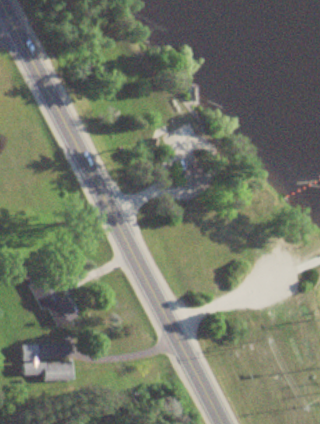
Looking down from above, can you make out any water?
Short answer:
Yes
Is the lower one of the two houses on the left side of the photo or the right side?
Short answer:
left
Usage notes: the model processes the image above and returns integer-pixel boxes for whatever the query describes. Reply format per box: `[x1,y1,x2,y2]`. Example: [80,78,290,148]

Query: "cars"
[180,157,186,167]
[27,40,35,52]
[86,154,94,164]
